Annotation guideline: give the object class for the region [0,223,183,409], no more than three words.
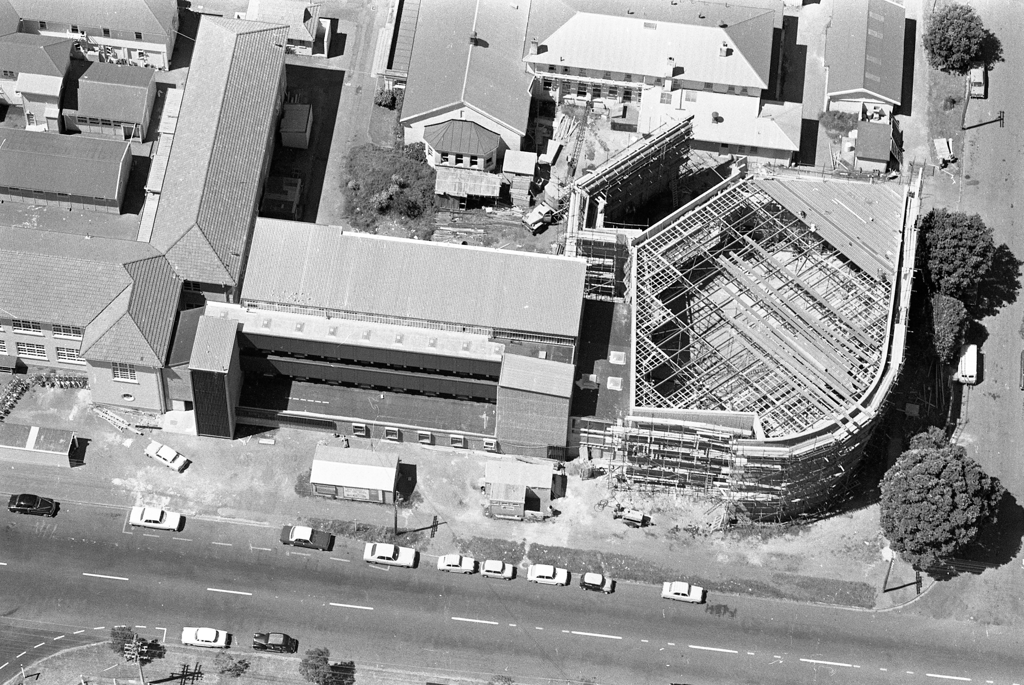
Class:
building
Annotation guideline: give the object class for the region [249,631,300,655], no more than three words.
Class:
car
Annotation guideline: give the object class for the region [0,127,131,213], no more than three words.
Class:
shed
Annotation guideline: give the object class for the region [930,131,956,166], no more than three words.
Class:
trailer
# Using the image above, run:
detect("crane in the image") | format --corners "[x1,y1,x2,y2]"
[561,102,590,184]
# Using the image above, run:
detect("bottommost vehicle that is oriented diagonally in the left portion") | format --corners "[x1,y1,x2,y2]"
[144,437,190,475]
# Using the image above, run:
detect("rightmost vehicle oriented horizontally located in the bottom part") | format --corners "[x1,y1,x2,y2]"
[659,580,706,605]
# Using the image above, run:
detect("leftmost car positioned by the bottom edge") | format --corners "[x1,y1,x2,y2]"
[179,625,231,651]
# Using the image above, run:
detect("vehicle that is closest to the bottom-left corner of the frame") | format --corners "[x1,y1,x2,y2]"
[6,493,59,518]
